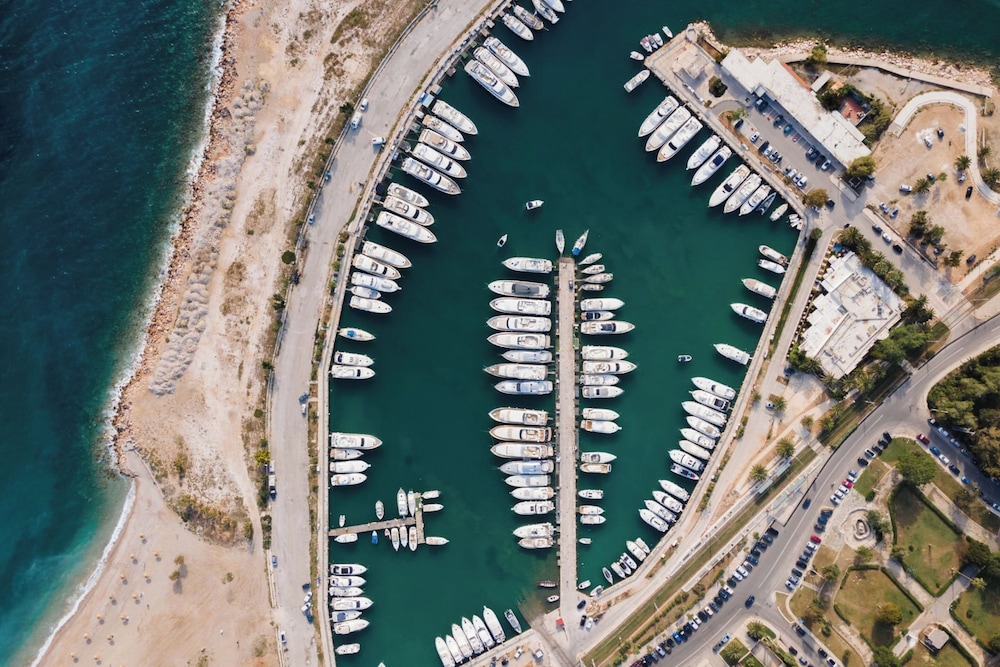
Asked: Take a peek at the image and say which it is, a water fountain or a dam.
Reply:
water fountain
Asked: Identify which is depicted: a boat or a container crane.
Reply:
boat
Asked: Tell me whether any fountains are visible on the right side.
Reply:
Yes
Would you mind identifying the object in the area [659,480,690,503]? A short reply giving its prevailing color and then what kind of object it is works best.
white boat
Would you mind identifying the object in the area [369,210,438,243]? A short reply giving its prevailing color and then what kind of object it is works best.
white boat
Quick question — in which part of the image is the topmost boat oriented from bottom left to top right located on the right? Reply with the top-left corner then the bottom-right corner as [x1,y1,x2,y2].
[623,69,650,93]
